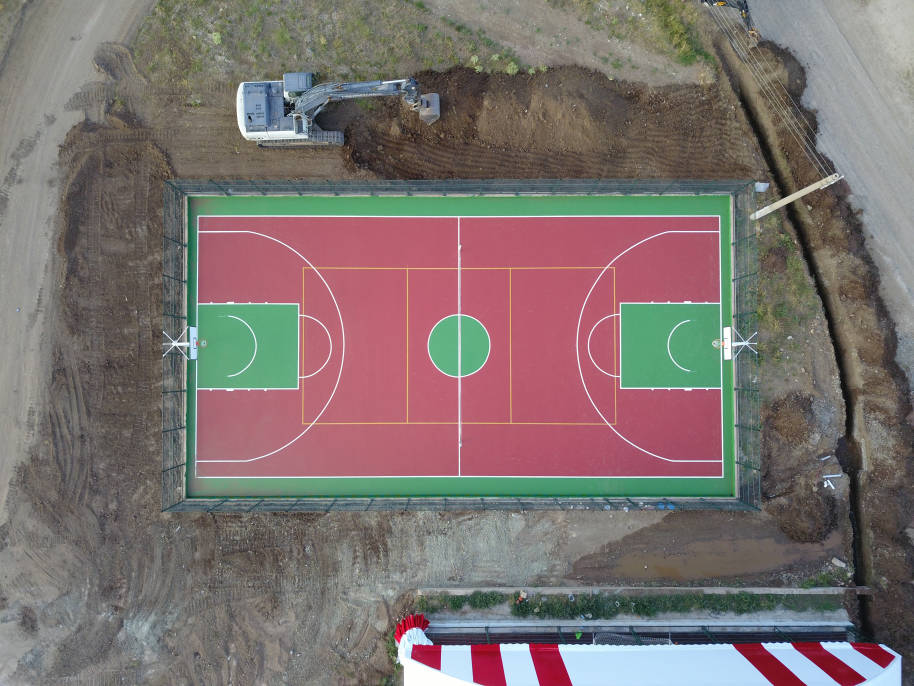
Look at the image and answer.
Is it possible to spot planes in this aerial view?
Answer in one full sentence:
No, there appears to be no plane in this shot.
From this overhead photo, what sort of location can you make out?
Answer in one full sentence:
The picture captures a sports ground.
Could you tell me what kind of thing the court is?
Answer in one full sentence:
The court is a basketball court.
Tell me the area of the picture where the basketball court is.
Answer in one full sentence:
You can find the basketball court in the center area of the picture.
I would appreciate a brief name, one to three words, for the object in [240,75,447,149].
work vehicle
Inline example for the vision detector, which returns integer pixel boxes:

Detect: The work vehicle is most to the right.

[691,0,761,45]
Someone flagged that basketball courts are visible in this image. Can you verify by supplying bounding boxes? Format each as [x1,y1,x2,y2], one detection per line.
[179,190,744,502]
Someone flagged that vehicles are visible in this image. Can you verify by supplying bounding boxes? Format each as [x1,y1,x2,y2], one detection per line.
[240,75,447,149]
[691,0,761,45]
